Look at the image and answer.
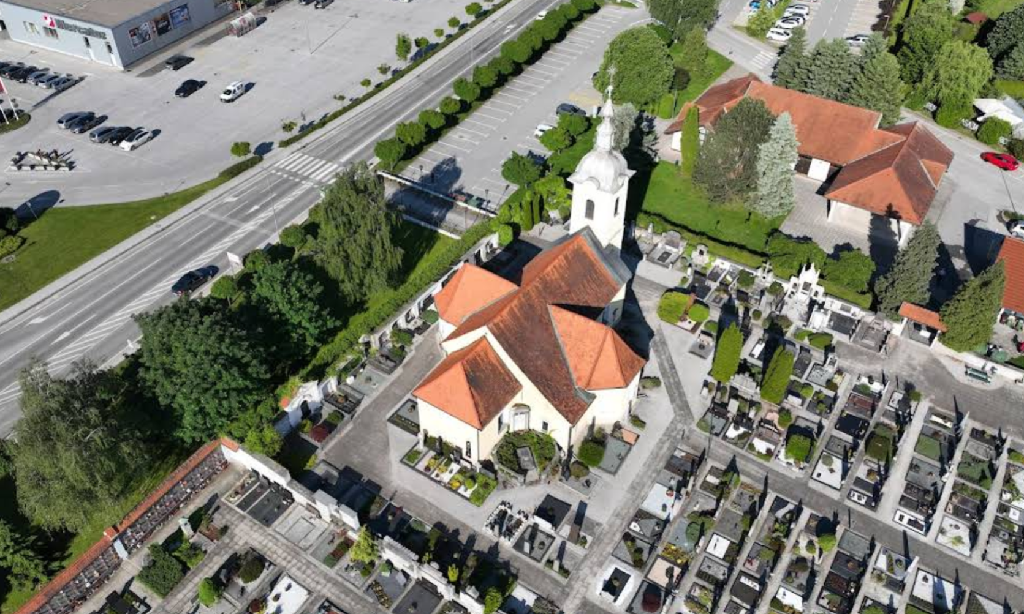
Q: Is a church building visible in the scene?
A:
Yes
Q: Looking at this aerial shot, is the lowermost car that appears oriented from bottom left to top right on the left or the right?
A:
left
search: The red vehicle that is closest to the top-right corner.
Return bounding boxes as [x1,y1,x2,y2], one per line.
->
[979,152,1020,172]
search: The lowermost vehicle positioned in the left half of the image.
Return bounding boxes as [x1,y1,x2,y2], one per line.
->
[173,267,216,297]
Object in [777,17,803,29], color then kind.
white vehicle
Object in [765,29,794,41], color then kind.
white vehicle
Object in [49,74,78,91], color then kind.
gray car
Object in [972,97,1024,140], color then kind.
white tent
